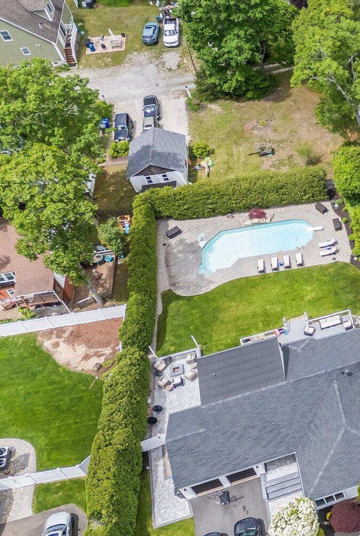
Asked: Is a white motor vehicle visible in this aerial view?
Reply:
Yes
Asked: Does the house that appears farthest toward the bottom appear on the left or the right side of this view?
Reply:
right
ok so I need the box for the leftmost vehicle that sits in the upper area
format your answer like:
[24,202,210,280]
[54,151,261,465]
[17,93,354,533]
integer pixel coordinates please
[110,111,132,142]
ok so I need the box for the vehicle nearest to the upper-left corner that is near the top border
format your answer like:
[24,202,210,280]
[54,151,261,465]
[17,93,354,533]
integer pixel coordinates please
[142,26,159,44]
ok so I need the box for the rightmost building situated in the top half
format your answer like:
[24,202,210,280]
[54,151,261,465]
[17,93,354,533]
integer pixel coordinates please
[127,128,191,186]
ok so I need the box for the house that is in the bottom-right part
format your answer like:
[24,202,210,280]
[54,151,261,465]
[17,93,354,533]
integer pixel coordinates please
[166,324,360,508]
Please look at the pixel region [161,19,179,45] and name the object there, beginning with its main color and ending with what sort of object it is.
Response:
white vehicle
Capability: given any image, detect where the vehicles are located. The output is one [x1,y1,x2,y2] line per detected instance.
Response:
[234,516,262,536]
[140,114,159,137]
[40,511,75,536]
[161,19,179,45]
[140,92,161,120]
[110,111,132,142]
[142,26,159,44]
